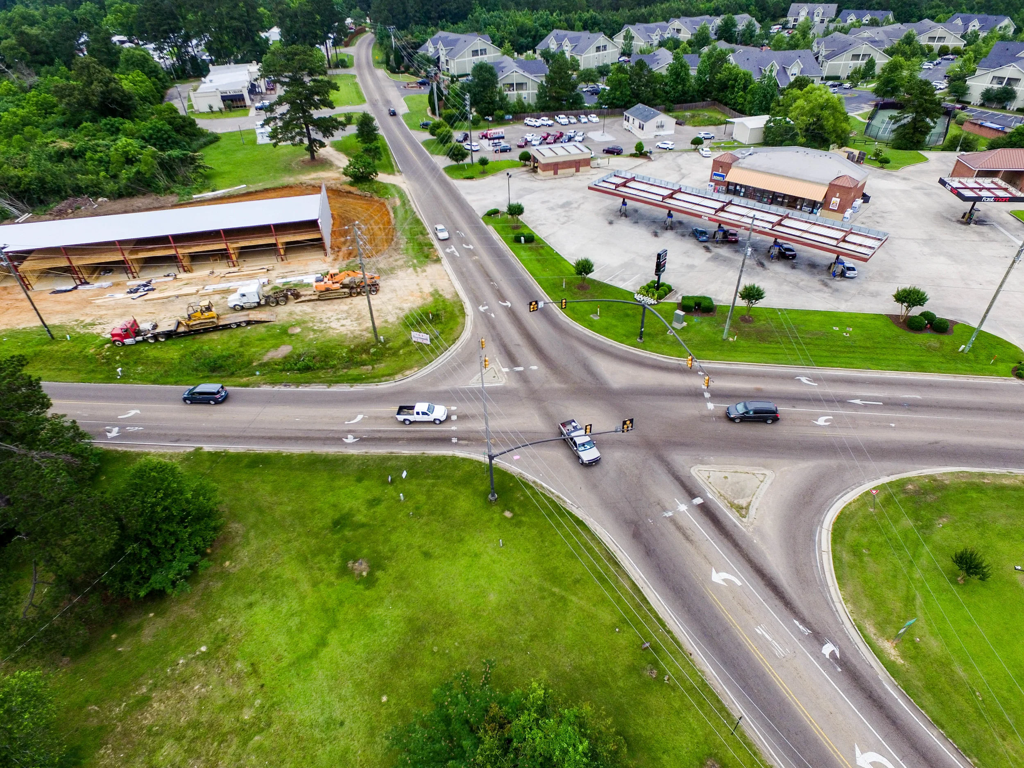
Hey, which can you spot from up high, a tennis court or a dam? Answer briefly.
tennis court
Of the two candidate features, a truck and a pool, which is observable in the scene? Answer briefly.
truck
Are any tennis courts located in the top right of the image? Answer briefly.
Yes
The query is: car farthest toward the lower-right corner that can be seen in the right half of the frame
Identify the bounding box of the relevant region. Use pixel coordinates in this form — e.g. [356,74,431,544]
[726,400,780,424]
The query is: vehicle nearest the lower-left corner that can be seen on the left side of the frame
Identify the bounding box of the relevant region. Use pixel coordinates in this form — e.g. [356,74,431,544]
[177,382,228,405]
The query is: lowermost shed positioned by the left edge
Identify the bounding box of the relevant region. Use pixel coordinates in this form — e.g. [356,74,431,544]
[0,183,331,292]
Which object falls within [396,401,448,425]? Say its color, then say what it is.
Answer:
white truck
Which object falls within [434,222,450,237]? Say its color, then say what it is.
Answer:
white car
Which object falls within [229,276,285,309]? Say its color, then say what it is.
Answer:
white truck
